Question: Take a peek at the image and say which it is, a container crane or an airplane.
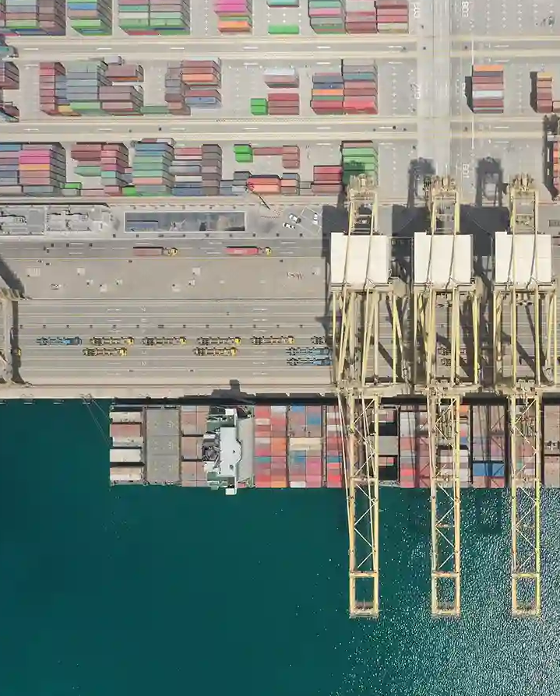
container crane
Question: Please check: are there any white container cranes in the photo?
Yes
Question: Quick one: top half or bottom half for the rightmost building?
top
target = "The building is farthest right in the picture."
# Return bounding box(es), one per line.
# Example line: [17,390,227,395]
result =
[47,205,109,233]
